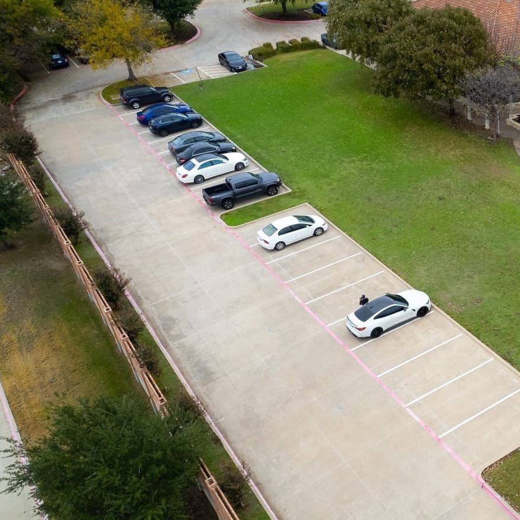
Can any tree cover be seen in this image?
Yes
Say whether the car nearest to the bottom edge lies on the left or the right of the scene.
right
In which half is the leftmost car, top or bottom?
top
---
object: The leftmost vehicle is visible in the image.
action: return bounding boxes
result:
[42,49,73,69]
